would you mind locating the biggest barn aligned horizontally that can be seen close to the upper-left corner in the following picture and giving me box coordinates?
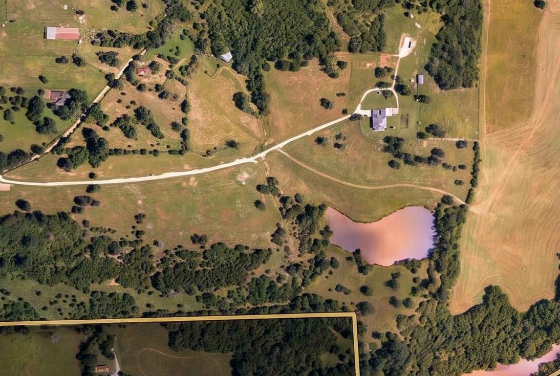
[45,27,78,39]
